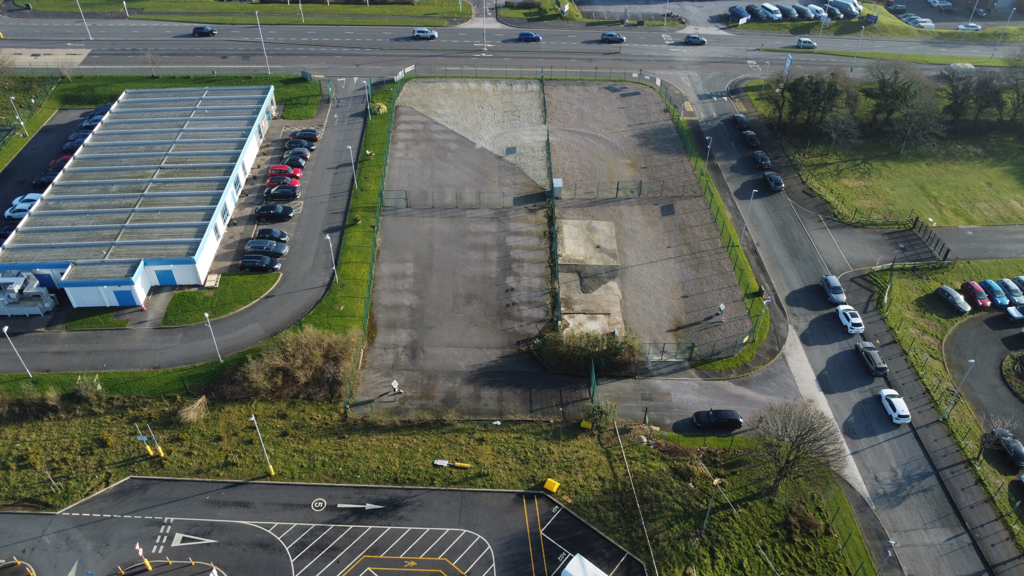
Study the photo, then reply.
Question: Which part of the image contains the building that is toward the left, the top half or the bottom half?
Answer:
top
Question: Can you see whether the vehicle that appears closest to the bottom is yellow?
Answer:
No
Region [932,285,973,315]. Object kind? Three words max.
car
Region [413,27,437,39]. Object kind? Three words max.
vehicle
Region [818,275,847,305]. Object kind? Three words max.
car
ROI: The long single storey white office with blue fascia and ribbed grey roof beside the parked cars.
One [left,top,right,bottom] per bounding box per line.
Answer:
[0,87,286,315]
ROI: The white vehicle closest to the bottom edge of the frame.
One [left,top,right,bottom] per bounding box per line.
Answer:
[564,556,607,576]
